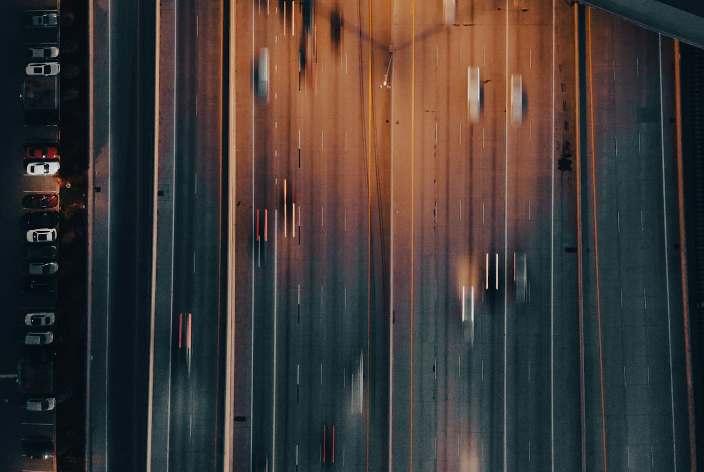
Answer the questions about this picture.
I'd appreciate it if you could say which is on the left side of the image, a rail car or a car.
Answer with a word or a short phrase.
car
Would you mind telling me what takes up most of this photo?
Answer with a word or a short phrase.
paved ground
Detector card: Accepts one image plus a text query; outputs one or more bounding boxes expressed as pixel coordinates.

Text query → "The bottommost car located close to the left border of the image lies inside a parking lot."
[21,440,55,457]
